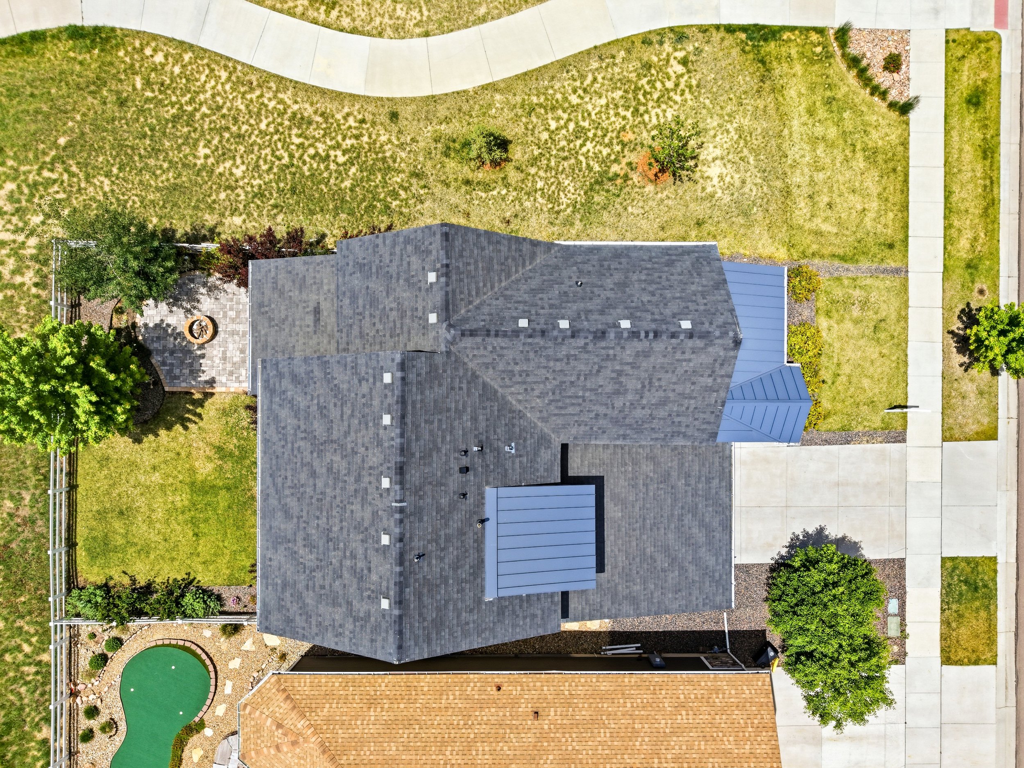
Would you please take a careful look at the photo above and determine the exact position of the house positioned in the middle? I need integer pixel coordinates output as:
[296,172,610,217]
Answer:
[246,223,812,665]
